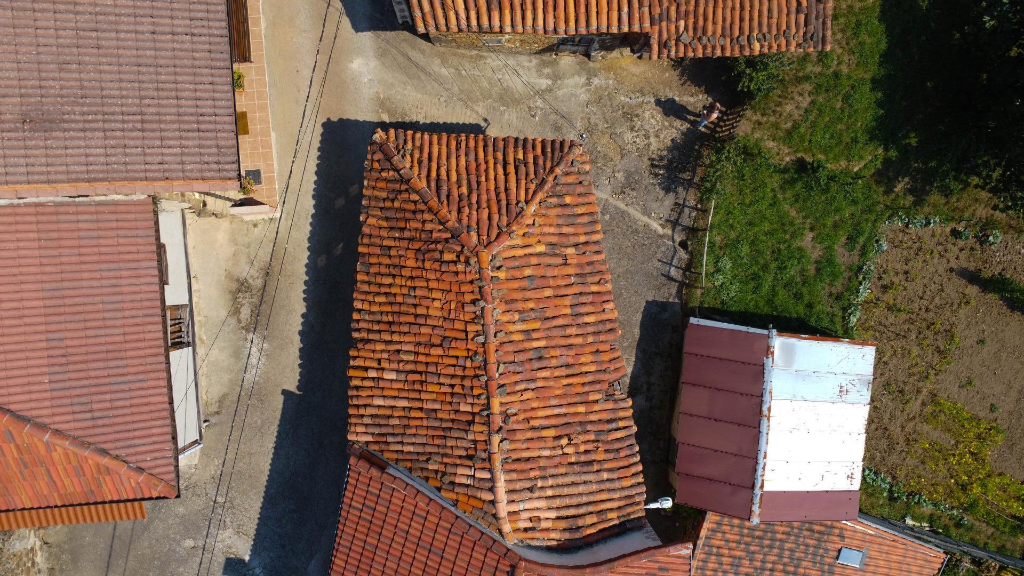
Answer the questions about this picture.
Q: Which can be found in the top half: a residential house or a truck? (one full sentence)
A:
Visible in the top half is a residential house.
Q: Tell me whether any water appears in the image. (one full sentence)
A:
No, there's no water in this view.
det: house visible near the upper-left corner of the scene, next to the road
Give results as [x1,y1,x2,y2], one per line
[0,0,245,201]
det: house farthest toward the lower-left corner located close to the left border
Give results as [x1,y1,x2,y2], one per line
[0,197,211,532]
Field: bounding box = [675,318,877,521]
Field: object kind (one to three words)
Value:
shed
